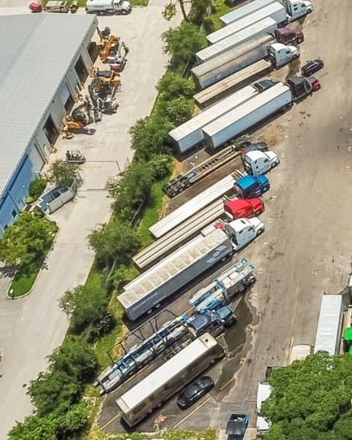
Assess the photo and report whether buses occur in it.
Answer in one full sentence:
Yes, there's a bus down there.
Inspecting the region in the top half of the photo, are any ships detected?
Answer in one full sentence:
No, the scene shows no ship in the top half of the photo.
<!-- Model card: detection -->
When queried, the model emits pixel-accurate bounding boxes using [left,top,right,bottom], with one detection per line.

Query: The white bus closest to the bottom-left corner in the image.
[118,334,222,425]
